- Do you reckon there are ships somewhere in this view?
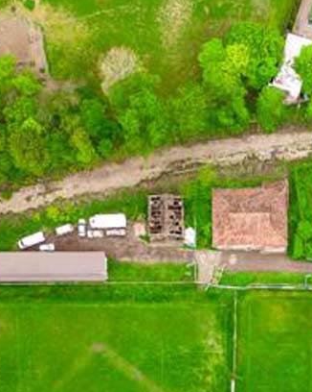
No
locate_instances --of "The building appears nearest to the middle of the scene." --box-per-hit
[146,193,186,246]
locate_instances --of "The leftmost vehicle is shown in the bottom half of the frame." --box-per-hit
[21,231,45,249]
